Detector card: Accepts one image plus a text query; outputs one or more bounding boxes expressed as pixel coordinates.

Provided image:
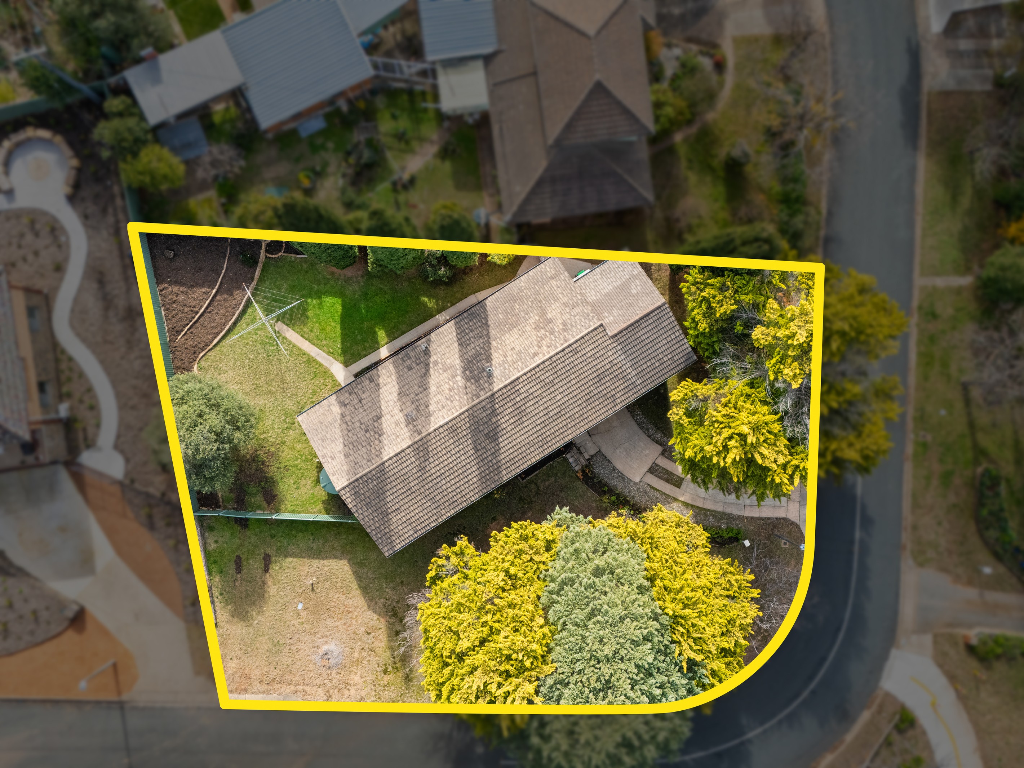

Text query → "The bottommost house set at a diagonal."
[296,246,698,559]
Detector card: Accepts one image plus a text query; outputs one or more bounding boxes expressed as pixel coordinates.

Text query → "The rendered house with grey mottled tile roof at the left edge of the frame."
[0,271,78,466]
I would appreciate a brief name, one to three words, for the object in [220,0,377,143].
building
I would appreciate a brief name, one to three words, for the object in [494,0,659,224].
house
